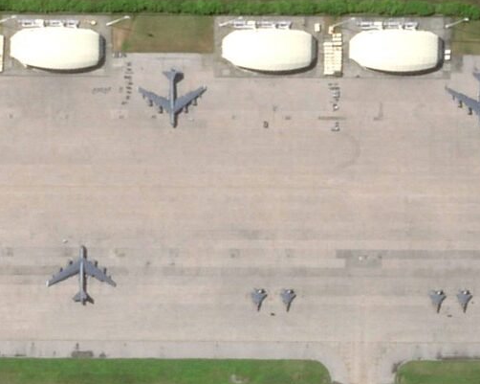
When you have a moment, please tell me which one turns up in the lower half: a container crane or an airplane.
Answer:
airplane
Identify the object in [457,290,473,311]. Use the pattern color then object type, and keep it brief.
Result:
gray airplane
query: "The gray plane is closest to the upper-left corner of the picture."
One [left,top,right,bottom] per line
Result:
[139,66,207,127]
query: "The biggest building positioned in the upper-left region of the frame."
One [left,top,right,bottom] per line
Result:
[10,26,100,72]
